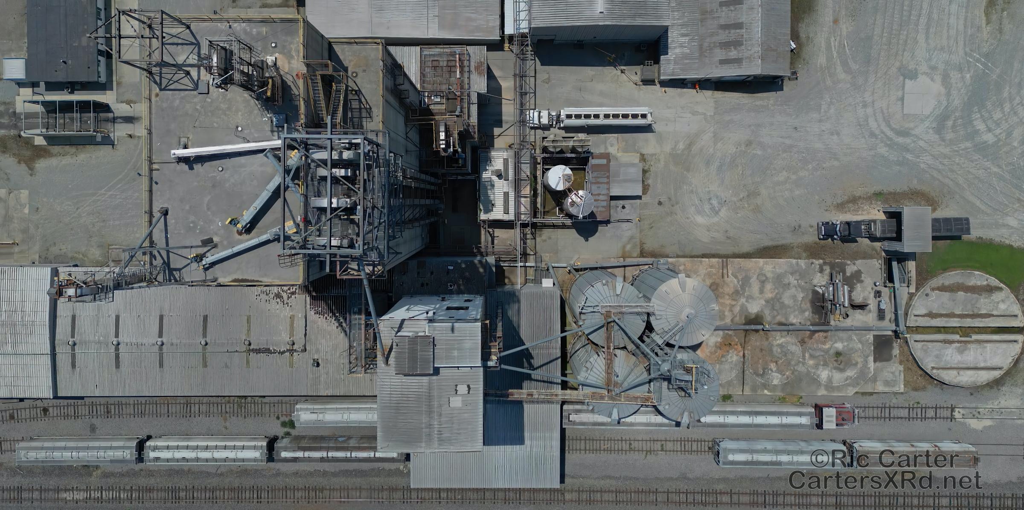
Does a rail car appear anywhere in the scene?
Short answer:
Yes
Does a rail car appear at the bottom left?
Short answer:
Yes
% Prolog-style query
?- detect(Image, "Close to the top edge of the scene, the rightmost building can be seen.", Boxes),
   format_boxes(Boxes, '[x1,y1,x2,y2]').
[657,0,791,81]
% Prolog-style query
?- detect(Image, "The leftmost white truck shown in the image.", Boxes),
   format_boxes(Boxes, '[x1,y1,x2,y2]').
[527,108,655,129]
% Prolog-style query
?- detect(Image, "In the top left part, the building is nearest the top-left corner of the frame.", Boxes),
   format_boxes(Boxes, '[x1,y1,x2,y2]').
[27,0,109,83]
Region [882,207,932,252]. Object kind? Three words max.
shed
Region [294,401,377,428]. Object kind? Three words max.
rail car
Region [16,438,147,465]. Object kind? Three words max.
rail car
